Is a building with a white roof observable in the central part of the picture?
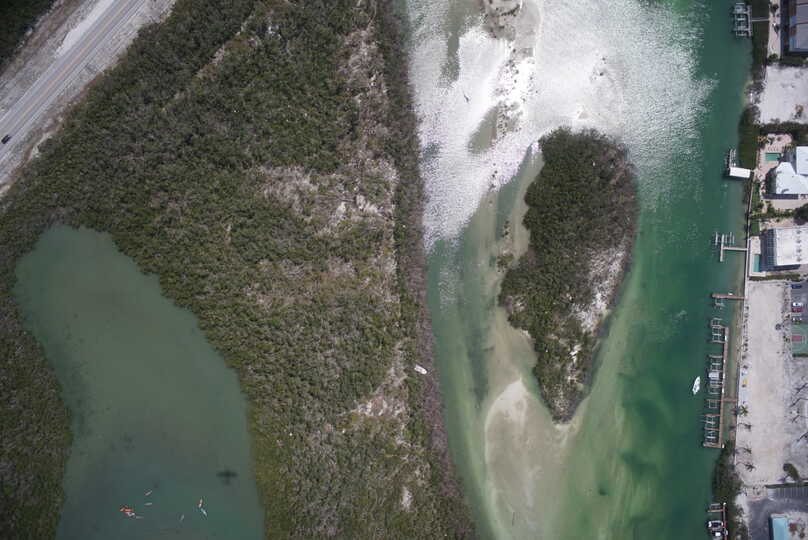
No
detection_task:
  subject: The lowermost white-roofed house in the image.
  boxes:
[776,227,808,264]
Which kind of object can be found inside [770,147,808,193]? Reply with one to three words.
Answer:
house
